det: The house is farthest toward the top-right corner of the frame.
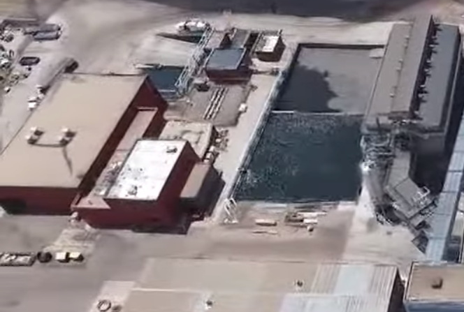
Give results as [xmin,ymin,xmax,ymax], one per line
[361,7,464,163]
